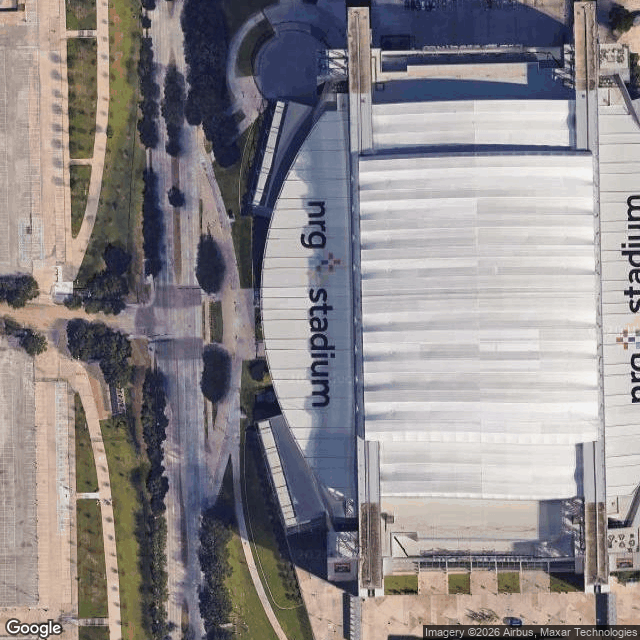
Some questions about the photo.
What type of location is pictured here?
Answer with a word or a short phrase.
sports ground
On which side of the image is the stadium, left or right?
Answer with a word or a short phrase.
right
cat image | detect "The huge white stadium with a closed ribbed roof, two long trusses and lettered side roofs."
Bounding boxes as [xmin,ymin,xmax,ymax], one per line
[252,2,640,598]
